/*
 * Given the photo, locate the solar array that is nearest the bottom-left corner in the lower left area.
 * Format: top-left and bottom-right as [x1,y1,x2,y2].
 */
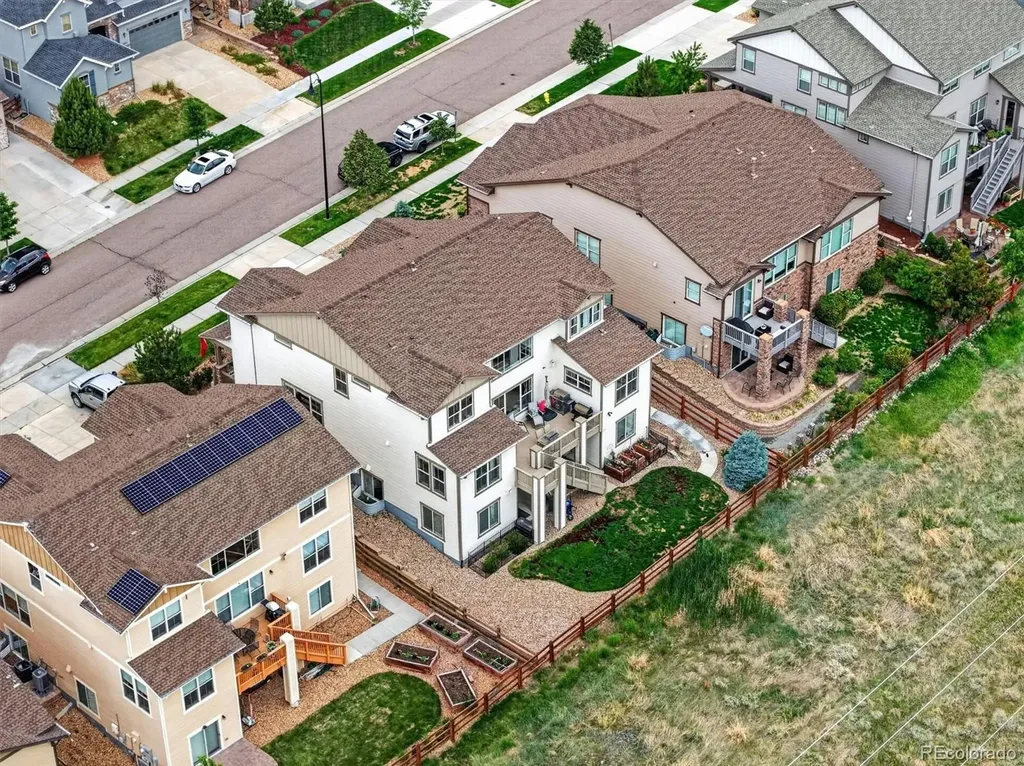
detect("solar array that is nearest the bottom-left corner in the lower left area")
[106,566,159,614]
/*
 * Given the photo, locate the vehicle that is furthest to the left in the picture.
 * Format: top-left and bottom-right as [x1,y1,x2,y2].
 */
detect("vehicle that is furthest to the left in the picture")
[0,240,56,291]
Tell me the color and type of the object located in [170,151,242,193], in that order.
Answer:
white car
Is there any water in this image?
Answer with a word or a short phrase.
No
